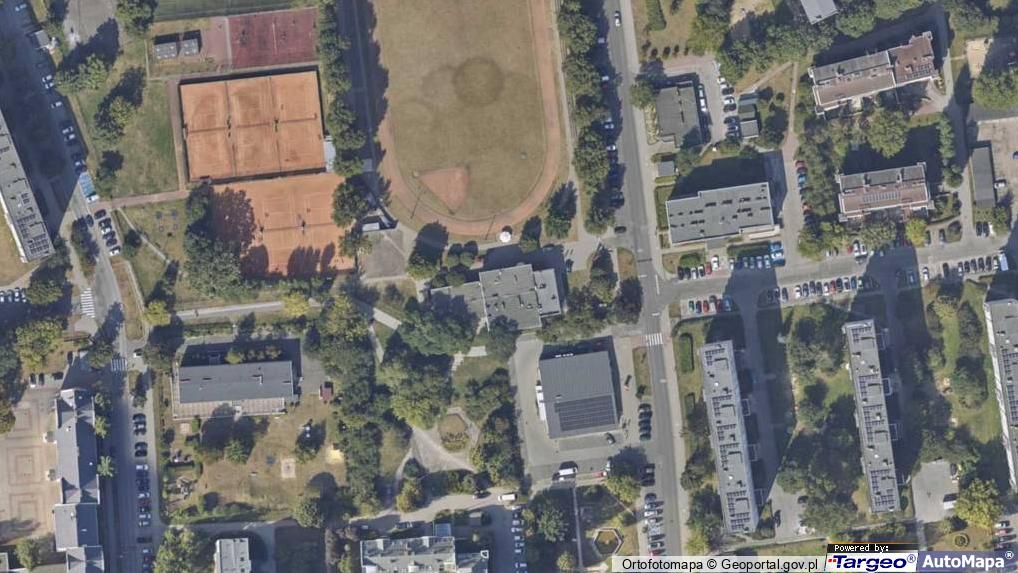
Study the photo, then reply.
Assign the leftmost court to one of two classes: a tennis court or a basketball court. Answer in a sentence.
It looks like the leftmost court is a tennis court.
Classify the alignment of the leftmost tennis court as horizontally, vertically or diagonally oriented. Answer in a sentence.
The leftmost tennis court has been laid out vertically relative to the frame.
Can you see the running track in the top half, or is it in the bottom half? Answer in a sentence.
It is in the top half that the running track appears.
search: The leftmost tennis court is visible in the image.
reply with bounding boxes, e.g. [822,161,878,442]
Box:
[182,81,235,179]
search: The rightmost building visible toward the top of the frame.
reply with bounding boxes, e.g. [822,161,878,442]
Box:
[972,147,995,207]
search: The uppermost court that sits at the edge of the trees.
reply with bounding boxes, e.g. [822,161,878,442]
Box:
[191,9,320,71]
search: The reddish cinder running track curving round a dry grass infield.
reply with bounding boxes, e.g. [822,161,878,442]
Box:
[364,0,563,236]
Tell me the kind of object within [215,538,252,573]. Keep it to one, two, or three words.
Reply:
house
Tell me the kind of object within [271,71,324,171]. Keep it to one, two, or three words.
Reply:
tennis court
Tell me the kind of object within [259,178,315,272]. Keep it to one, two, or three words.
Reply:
tennis court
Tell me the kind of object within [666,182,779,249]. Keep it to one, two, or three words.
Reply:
building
